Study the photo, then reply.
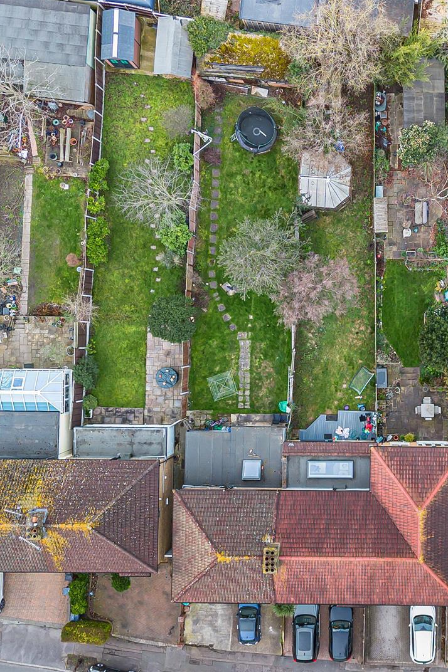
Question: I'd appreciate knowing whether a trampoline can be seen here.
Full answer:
Yes, looking at the shot, I can spot a trampoline.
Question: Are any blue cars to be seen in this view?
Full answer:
Yes, the photo shows a blue car.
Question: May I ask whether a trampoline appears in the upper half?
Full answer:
Yes, in the upper half there is a trampoline.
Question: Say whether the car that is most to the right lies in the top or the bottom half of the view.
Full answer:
You can find the car that is most to the right in the bottom half.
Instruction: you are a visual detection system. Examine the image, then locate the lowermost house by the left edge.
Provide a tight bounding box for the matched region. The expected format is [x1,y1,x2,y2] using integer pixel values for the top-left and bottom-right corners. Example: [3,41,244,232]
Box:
[0,453,176,573]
